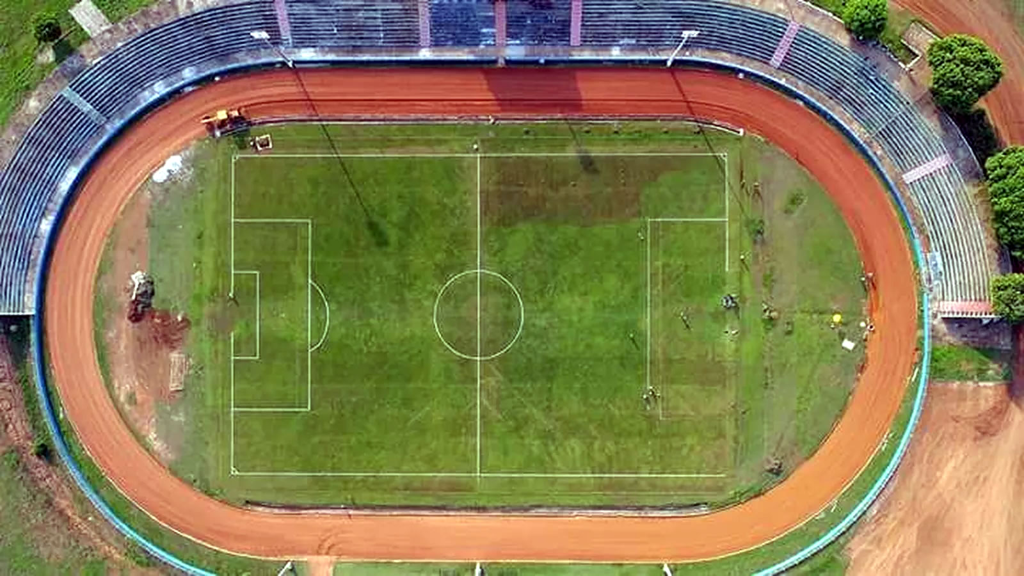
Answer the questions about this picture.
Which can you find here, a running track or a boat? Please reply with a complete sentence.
This aerial view contains a running track.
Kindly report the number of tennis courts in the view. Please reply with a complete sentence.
The picture shows no tennis courts.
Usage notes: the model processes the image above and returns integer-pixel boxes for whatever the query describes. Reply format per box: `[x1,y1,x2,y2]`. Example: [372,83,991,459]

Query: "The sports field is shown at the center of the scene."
[225,146,734,484]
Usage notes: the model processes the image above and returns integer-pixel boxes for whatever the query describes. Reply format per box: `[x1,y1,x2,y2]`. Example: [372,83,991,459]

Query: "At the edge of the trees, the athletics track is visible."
[45,67,918,565]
